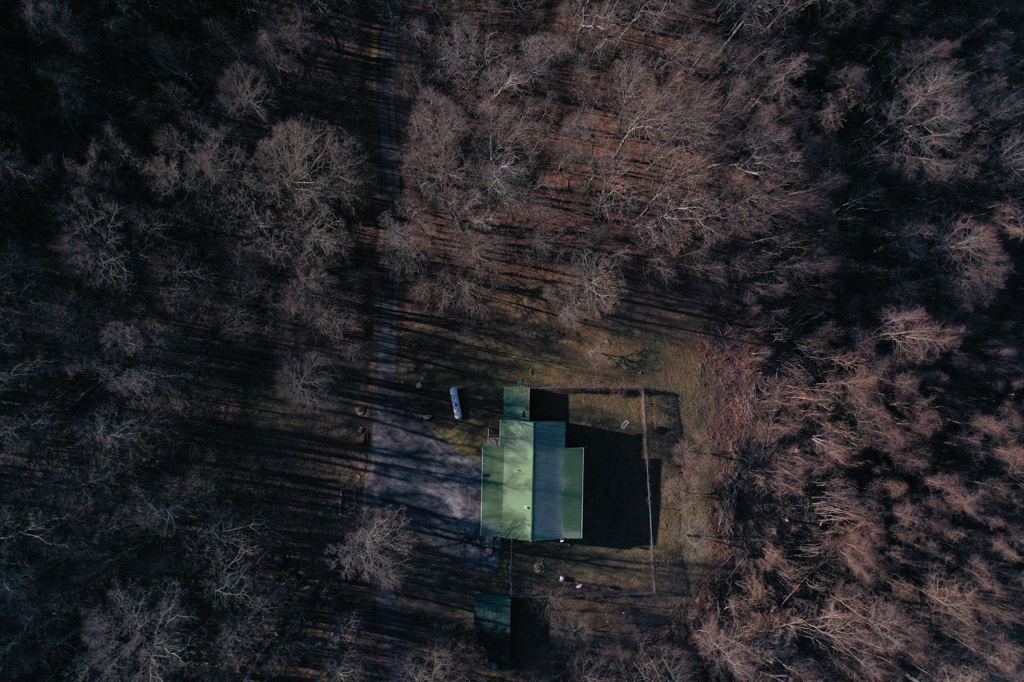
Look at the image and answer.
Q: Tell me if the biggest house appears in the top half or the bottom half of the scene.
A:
bottom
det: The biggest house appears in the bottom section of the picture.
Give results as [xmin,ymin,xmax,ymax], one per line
[480,386,585,542]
